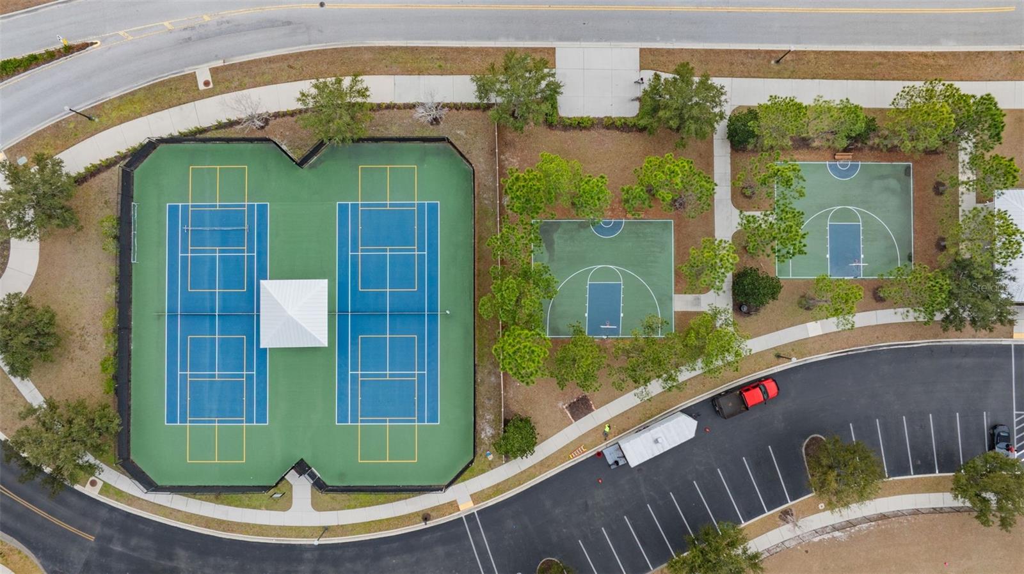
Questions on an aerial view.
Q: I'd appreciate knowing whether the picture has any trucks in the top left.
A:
No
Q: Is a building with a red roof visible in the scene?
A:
No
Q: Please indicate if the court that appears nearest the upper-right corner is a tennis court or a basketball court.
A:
basketball court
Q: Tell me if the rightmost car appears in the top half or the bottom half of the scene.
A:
bottom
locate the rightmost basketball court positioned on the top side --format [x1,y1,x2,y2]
[774,162,914,278]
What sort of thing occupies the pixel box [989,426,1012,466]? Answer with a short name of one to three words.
car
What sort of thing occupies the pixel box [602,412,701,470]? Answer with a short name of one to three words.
trailer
